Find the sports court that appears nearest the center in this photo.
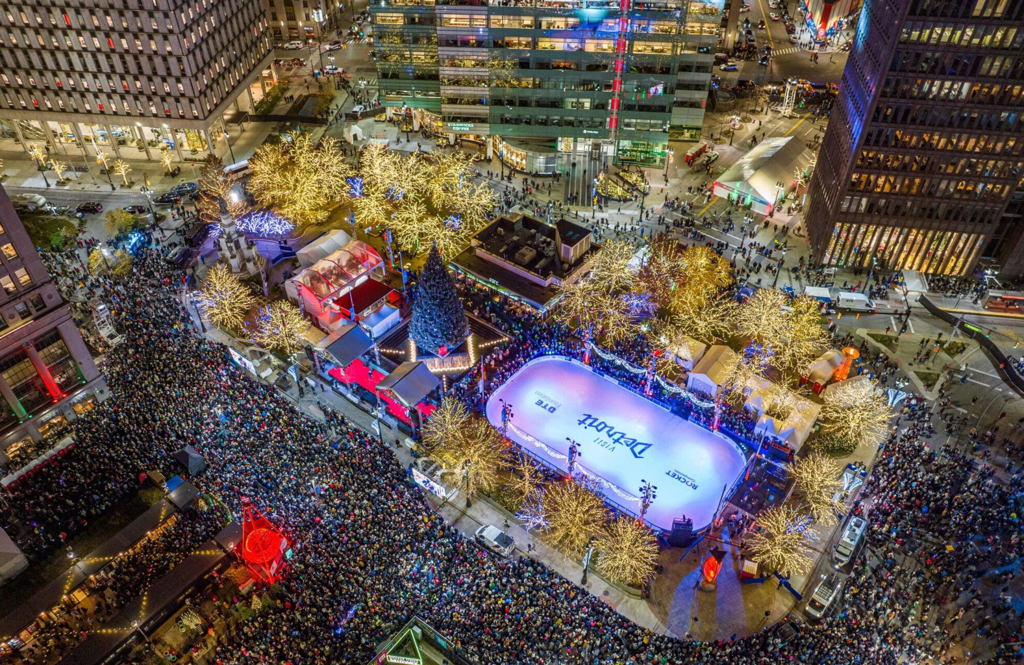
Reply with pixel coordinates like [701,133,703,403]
[484,350,750,531]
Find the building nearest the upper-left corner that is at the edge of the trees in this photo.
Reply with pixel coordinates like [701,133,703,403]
[0,0,284,171]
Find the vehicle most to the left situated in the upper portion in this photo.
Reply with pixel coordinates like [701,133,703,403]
[4,191,42,208]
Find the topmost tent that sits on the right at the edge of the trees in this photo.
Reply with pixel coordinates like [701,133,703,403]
[711,134,816,227]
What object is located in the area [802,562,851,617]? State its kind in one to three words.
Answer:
van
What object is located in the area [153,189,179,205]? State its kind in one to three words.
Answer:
car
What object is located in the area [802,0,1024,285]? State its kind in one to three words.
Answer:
building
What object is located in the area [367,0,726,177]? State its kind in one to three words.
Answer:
building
